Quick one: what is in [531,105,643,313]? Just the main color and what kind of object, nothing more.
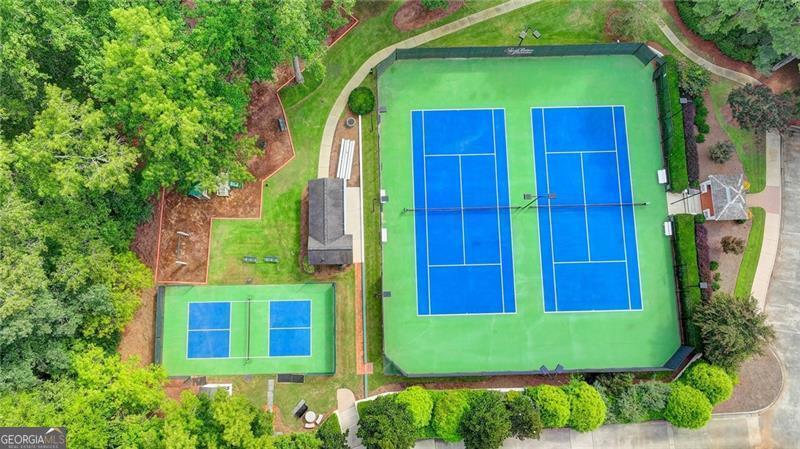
blue tennis court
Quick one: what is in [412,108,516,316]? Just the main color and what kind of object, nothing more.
blue tennis court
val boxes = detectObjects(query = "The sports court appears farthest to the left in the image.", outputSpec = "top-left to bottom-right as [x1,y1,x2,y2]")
[162,283,332,376]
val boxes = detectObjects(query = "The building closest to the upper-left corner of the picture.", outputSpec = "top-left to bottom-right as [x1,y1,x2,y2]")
[306,176,353,269]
